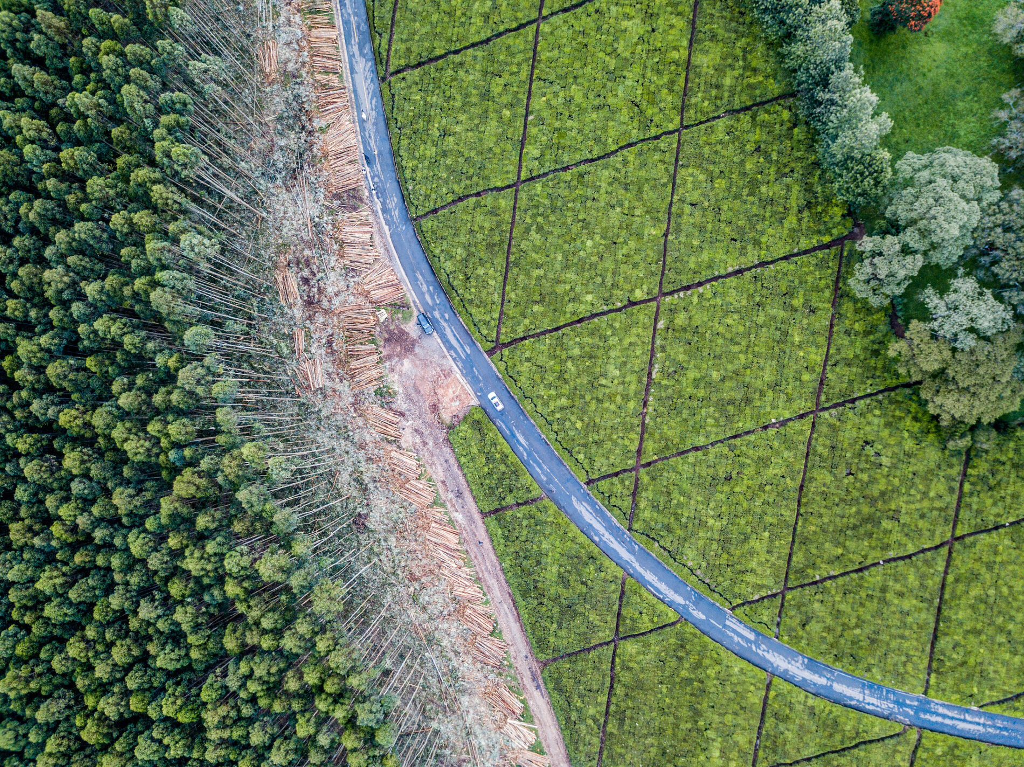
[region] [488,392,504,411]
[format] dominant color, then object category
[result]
white car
